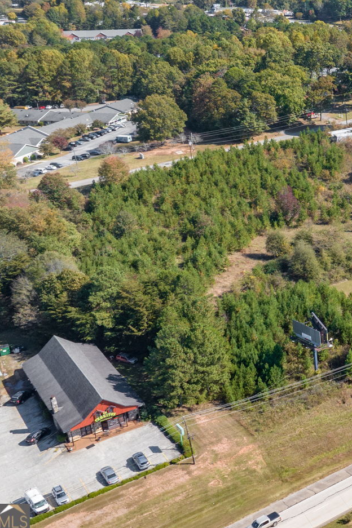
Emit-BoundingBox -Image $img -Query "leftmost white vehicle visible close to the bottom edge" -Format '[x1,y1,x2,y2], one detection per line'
[23,482,49,511]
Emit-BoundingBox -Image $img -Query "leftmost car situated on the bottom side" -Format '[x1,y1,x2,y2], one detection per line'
[7,386,35,403]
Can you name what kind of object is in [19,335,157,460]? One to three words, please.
building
